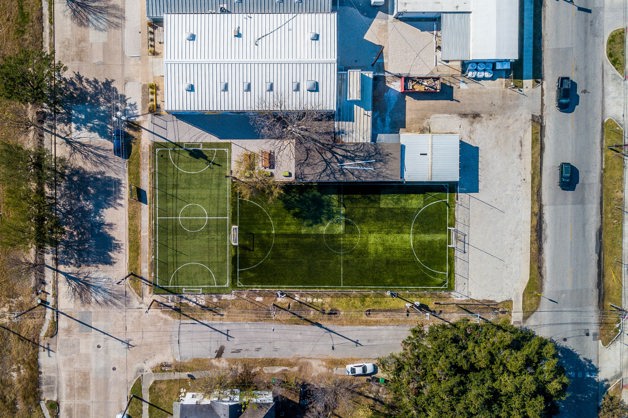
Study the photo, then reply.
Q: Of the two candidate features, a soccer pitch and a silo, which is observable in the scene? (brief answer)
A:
soccer pitch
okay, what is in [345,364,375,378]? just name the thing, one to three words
car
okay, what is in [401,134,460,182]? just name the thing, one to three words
shed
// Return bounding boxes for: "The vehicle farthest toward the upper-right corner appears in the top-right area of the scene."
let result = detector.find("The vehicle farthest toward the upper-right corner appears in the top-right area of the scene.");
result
[555,77,572,111]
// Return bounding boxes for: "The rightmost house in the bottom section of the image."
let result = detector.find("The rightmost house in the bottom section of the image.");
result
[246,386,288,418]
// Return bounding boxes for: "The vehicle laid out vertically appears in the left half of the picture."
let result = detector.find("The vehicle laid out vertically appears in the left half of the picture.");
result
[112,129,126,160]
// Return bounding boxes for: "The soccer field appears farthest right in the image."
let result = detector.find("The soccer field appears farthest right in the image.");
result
[231,180,456,293]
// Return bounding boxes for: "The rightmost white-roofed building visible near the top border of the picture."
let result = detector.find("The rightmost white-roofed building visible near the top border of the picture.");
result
[389,0,519,64]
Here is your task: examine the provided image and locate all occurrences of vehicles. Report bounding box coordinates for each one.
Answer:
[557,164,573,189]
[555,77,572,111]
[345,364,375,378]
[370,0,383,6]
[112,129,126,160]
